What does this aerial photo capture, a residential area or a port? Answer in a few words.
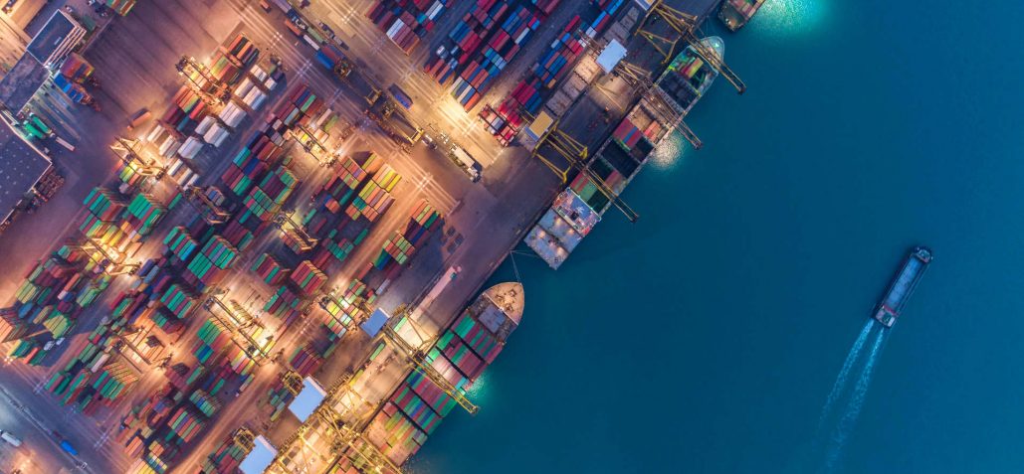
port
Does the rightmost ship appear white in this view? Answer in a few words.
No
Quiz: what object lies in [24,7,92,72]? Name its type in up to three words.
building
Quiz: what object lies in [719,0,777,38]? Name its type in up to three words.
ship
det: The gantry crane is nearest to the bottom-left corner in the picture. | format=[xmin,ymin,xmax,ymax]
[113,332,165,373]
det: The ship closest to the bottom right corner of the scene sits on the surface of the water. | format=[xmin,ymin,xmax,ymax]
[873,243,933,326]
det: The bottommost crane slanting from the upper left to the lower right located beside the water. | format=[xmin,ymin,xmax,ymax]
[277,363,404,474]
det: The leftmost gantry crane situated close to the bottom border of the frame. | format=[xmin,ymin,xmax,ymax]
[227,423,339,474]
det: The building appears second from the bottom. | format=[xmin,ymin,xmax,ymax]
[0,50,55,117]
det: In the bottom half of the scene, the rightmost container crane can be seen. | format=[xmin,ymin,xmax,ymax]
[354,297,482,417]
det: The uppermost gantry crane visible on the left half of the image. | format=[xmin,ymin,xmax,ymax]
[174,62,233,113]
